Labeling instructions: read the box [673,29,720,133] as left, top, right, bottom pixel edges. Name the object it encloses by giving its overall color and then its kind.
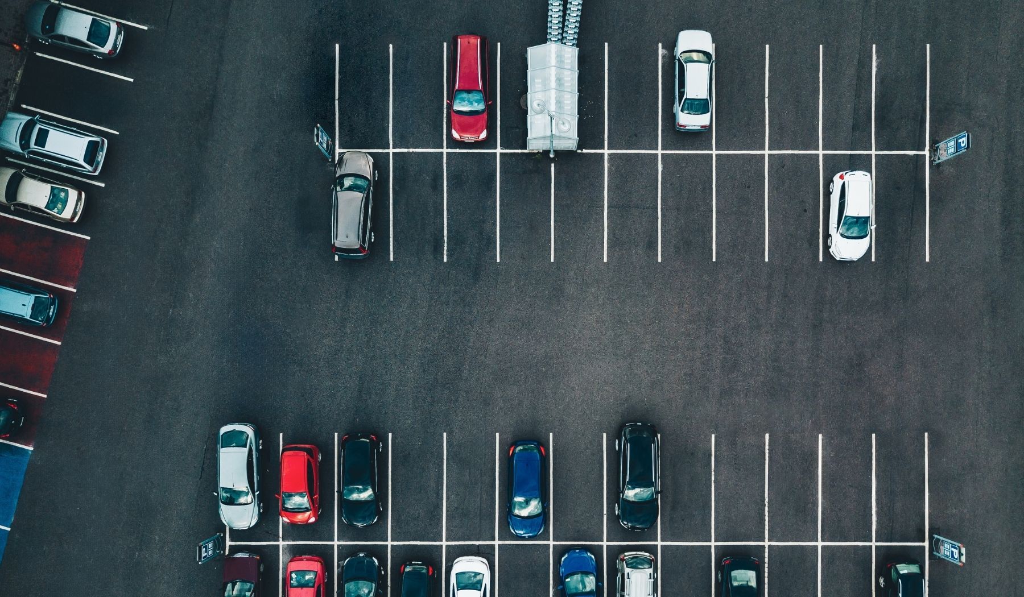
white car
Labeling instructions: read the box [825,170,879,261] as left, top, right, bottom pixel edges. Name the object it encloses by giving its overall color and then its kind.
white car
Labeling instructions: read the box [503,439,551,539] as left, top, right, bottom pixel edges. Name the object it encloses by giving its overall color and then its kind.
blue car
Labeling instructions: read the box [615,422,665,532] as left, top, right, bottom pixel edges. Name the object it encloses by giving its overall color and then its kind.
black car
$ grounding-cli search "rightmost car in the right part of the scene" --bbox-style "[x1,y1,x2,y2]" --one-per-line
[881,558,930,597]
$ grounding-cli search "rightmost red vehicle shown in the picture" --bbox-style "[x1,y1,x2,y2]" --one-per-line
[445,33,493,143]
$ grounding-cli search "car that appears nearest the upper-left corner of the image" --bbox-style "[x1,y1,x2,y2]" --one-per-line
[22,0,126,55]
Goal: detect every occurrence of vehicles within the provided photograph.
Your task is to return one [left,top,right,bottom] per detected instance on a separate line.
[272,443,321,525]
[617,550,658,597]
[0,276,62,327]
[326,150,376,259]
[450,554,490,597]
[284,553,328,597]
[503,439,551,539]
[334,433,382,529]
[445,33,493,143]
[335,551,384,597]
[615,422,665,532]
[720,554,763,597]
[555,545,604,597]
[397,561,436,597]
[214,549,264,597]
[881,558,930,597]
[825,170,879,261]
[0,109,109,173]
[673,29,720,133]
[22,0,126,55]
[210,422,263,529]
[0,163,86,220]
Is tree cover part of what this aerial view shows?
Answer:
No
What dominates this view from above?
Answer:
paved ground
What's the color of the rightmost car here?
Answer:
black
